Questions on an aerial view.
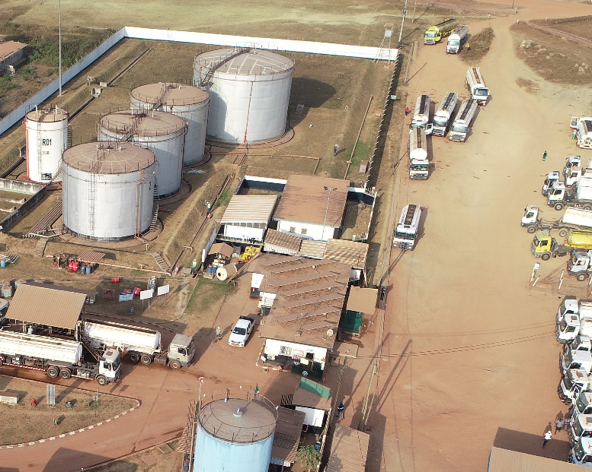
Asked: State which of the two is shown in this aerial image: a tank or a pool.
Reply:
tank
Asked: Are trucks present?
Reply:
Yes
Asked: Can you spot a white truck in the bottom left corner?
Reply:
Yes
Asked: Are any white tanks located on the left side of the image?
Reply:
Yes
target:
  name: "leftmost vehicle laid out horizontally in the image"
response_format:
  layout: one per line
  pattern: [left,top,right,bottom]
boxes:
[0,327,127,388]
